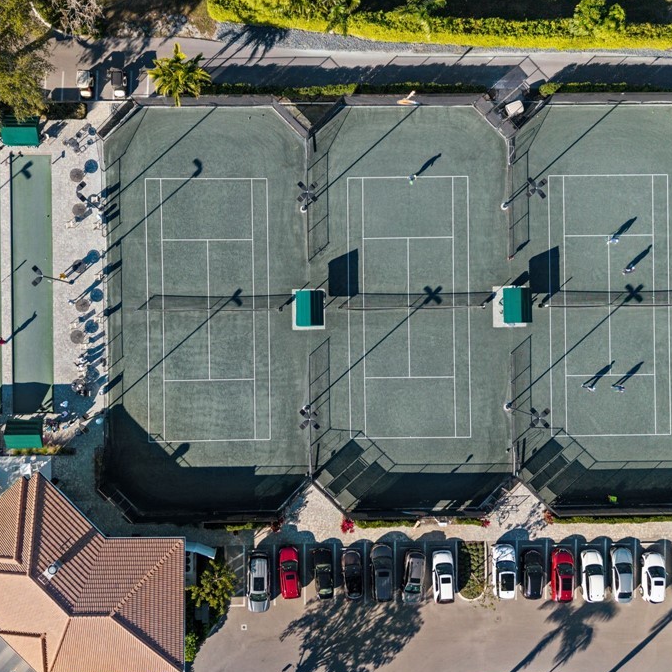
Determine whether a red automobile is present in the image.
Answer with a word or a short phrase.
Yes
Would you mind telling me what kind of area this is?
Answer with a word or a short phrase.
sports ground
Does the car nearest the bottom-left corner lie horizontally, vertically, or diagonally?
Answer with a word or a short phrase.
vertically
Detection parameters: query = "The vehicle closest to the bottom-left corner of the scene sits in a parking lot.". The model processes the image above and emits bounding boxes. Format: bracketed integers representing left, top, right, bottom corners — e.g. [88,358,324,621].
[245,550,271,611]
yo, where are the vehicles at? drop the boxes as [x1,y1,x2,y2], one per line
[638,551,666,603]
[76,71,95,102]
[277,545,302,599]
[431,548,456,603]
[245,550,271,611]
[401,548,426,602]
[578,548,606,602]
[311,546,335,599]
[607,546,635,602]
[503,99,527,125]
[520,547,546,598]
[109,70,127,101]
[549,547,576,602]
[340,548,364,599]
[490,542,518,599]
